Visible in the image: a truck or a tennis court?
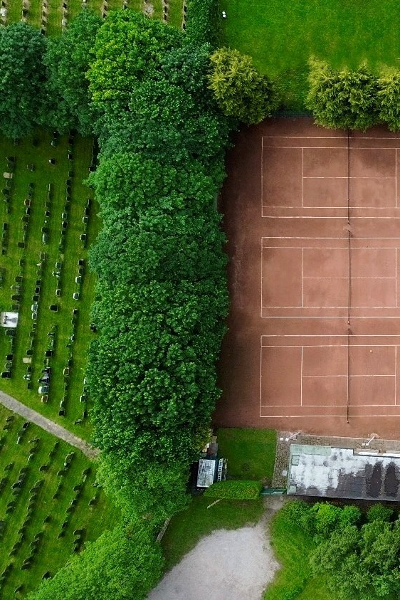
tennis court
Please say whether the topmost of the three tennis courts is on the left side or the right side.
right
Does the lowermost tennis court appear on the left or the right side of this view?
right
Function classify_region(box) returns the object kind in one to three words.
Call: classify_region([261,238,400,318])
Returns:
tennis court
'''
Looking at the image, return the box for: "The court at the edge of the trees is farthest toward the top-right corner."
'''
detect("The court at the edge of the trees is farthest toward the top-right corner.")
[261,138,400,218]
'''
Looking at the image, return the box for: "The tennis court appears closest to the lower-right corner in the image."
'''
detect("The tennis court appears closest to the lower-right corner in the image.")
[260,336,400,417]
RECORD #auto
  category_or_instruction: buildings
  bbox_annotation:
[197,456,220,488]
[284,442,400,502]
